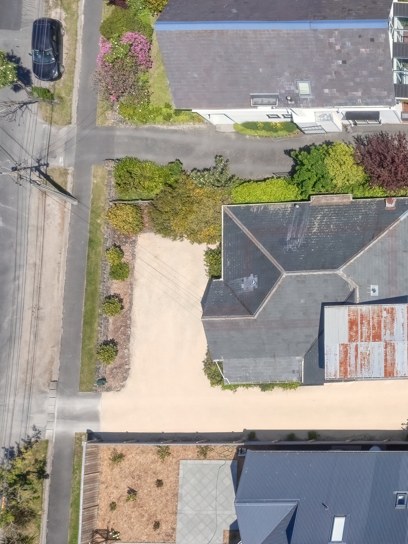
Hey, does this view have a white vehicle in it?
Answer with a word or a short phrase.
No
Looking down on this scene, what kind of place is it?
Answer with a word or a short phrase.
residential area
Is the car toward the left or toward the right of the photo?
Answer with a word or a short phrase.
left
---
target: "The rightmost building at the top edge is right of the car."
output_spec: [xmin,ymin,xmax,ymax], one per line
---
[154,0,408,132]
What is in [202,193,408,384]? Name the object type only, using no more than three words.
house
